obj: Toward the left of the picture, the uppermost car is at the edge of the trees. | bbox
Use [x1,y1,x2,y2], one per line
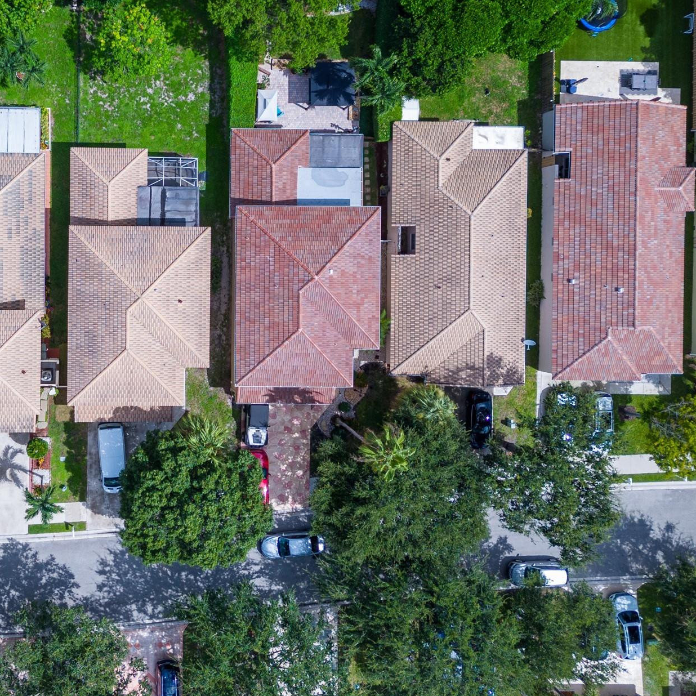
[240,405,270,450]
